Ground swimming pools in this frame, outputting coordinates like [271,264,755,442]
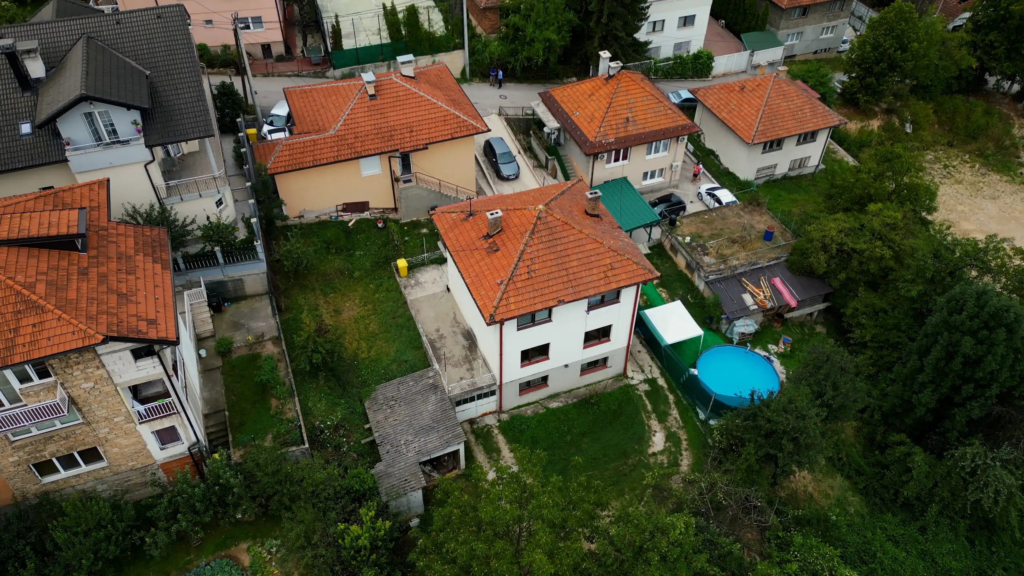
[694,341,782,425]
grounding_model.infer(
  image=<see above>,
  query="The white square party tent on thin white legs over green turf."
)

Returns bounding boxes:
[642,301,705,360]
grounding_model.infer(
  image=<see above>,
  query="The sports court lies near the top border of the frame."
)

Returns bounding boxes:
[318,0,447,67]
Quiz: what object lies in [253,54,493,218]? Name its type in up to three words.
house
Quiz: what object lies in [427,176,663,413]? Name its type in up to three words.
house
